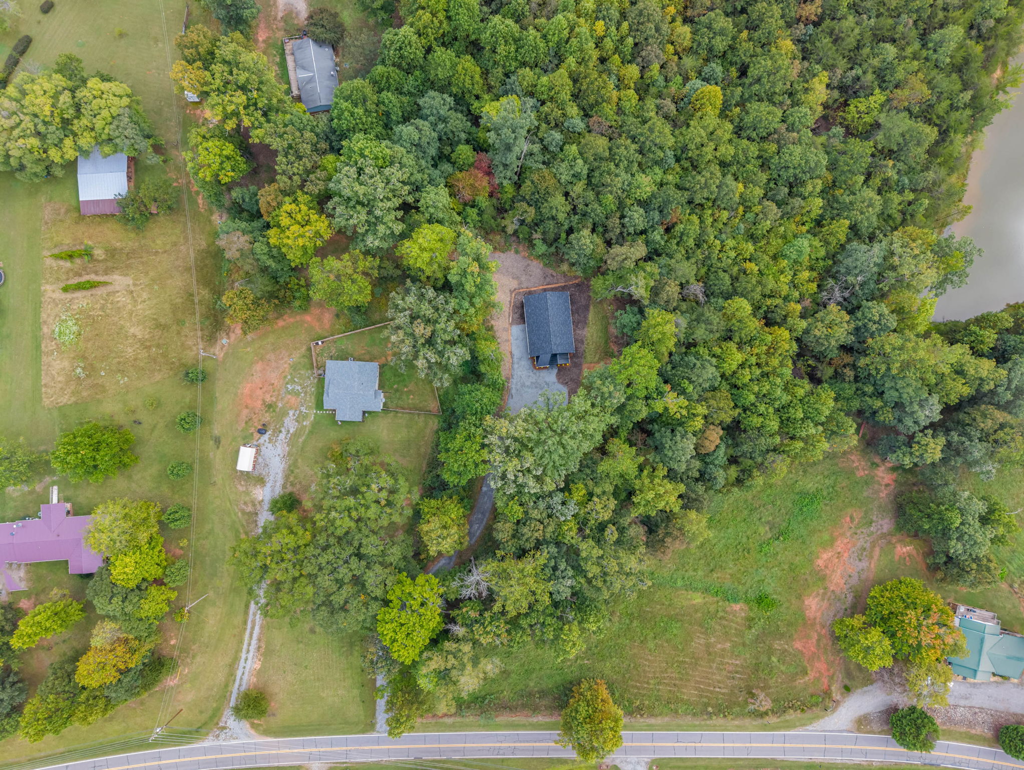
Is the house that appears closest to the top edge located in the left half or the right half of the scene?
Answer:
left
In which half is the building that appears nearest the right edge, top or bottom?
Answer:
bottom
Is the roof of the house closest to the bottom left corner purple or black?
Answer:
purple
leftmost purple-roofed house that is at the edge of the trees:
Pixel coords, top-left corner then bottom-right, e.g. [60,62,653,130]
[0,502,108,592]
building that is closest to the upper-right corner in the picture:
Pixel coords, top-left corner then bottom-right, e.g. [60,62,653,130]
[523,291,575,368]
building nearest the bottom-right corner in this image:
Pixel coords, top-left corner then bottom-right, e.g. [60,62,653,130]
[944,602,1024,683]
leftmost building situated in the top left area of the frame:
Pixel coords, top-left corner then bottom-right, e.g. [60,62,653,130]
[76,152,136,216]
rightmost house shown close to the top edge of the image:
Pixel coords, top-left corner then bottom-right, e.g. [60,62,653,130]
[282,34,341,113]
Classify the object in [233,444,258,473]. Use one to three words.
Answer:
shed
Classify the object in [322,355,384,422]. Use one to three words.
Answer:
house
